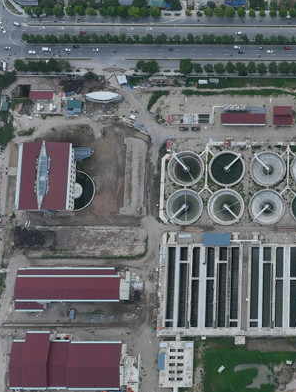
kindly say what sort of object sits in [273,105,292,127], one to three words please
building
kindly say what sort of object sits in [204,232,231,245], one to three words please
house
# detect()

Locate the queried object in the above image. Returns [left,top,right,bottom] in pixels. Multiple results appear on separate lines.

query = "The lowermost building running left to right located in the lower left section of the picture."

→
[8,332,127,390]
